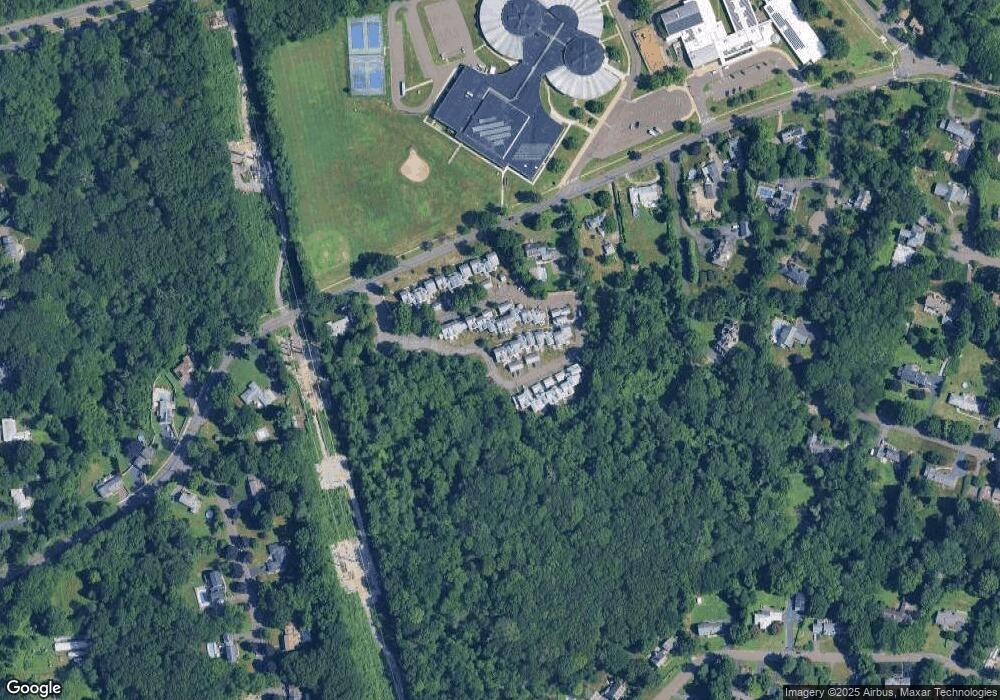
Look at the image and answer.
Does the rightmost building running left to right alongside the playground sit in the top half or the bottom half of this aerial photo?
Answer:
top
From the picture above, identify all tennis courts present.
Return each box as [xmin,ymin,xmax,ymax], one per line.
[366,55,386,95]
[349,56,368,96]
[365,15,384,55]
[347,16,366,56]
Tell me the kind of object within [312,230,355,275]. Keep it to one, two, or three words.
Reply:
baseball field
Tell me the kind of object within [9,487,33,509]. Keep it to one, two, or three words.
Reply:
house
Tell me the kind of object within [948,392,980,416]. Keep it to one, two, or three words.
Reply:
house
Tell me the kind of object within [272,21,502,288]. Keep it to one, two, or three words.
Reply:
sports field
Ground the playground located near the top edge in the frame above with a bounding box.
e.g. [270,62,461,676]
[633,24,666,70]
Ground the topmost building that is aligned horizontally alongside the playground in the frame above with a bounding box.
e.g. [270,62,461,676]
[660,0,827,75]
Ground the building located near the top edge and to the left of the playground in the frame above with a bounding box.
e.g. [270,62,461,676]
[434,0,623,183]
